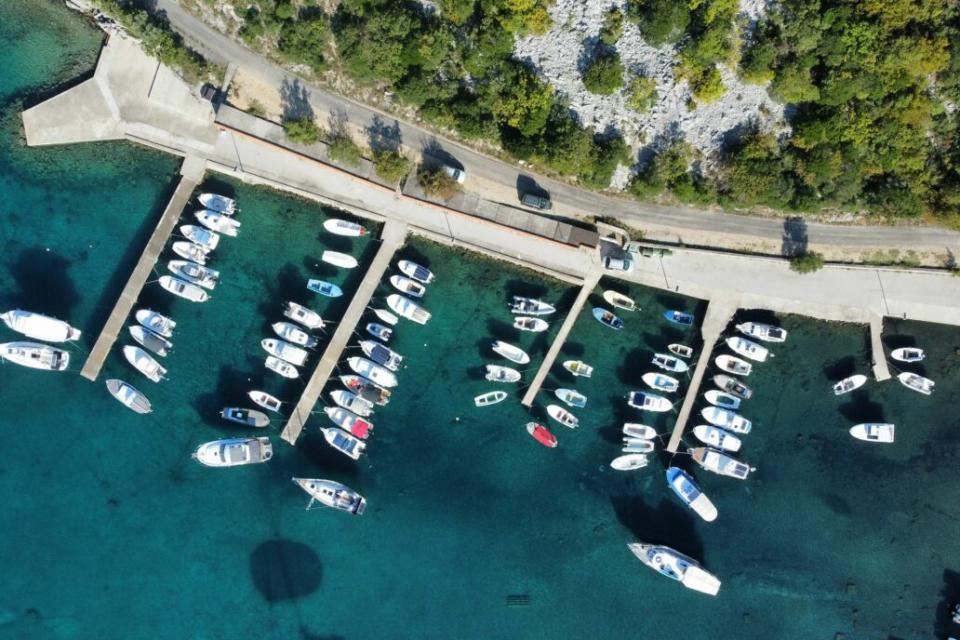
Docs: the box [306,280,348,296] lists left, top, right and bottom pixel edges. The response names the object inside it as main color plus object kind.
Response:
blue boat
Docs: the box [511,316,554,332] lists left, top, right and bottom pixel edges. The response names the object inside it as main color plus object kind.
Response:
white boat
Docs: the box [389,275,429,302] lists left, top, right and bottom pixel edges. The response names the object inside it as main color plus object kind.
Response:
white boat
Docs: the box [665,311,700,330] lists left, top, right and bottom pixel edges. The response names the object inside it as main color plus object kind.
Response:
blue boat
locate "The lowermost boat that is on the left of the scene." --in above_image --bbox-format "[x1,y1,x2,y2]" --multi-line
[289,479,369,517]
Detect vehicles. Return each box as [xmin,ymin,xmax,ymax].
[437,163,467,186]
[520,192,553,213]
[603,257,634,273]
